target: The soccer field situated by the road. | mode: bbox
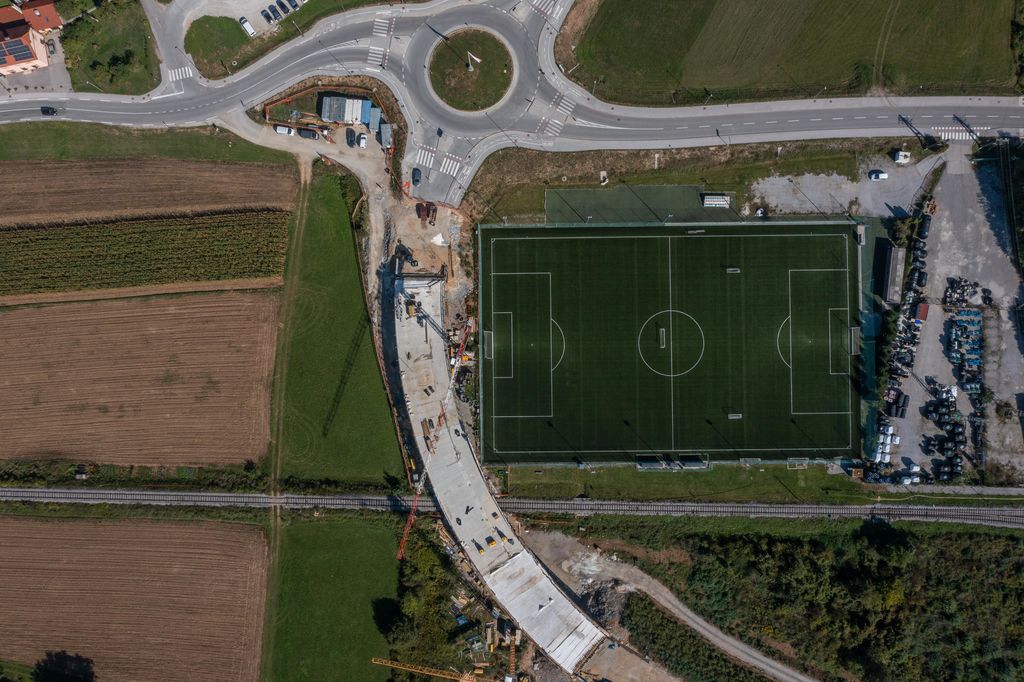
[481,222,862,464]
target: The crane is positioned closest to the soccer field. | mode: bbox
[399,319,475,558]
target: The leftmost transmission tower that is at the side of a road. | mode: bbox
[920,134,952,155]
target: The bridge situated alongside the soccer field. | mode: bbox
[395,270,609,677]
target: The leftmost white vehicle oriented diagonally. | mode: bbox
[239,17,254,35]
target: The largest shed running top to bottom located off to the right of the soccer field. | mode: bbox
[879,248,906,303]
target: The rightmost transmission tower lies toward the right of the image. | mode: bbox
[975,133,1009,154]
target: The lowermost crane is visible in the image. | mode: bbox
[372,614,521,682]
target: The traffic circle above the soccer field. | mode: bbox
[403,4,538,137]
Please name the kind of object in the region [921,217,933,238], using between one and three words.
vehicle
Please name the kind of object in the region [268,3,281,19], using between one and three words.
vehicle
